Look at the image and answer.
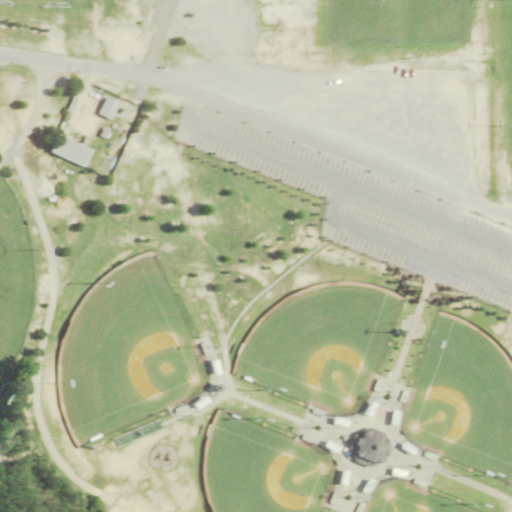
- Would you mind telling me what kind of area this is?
sports ground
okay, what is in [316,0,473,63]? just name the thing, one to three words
sports field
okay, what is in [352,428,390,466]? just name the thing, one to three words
building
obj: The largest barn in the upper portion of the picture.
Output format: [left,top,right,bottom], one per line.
[52,140,94,172]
